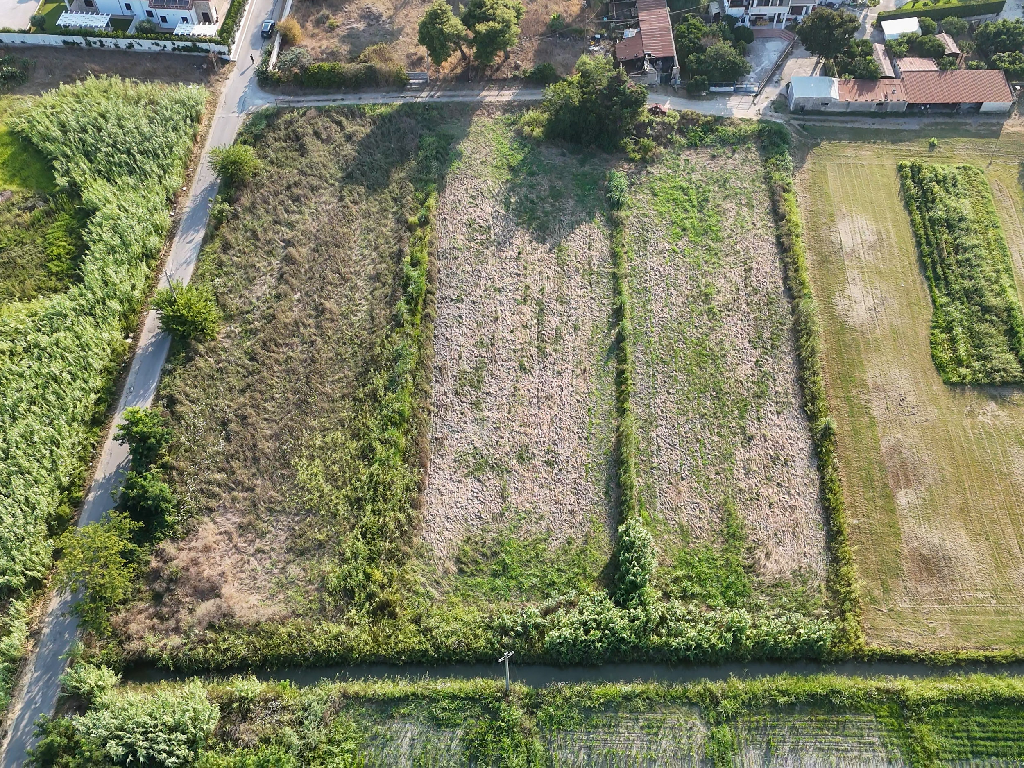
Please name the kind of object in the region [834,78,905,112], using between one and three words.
shed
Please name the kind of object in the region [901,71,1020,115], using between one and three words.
barn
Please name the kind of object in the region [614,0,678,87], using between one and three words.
shed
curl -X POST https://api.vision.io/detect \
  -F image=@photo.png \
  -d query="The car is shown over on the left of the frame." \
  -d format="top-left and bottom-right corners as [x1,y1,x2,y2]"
[260,13,278,35]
